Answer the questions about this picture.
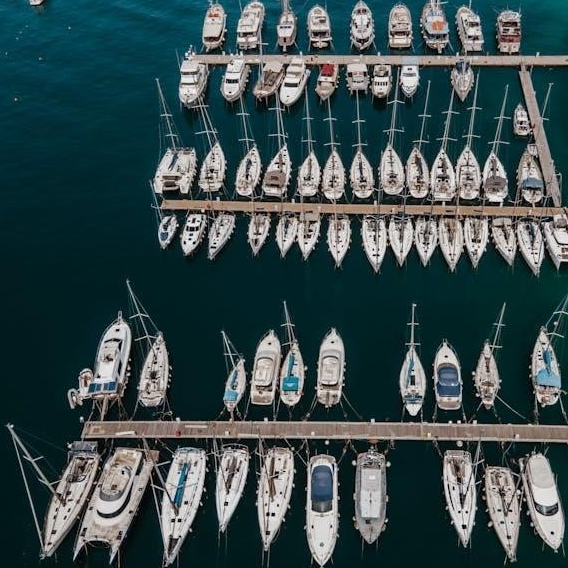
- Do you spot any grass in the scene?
No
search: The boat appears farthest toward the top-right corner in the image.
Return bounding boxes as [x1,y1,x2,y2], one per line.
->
[495,10,530,54]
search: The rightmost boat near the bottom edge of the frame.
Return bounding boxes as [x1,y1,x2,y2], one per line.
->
[511,447,565,564]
